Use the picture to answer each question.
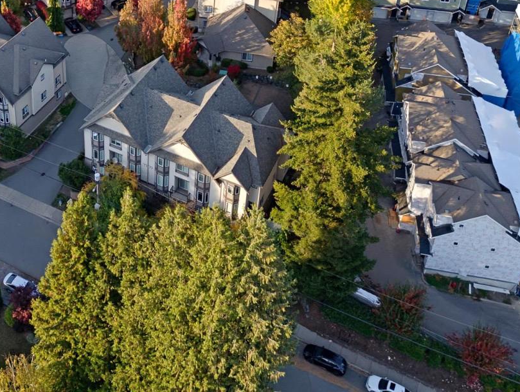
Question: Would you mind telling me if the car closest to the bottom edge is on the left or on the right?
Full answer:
The car closest to the bottom edge appears in the right half of the scene.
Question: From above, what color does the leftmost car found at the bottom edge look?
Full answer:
The leftmost car found at the bottom edge looks black in the image.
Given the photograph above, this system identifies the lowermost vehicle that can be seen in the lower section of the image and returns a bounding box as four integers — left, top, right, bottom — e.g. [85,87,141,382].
[364,369,413,392]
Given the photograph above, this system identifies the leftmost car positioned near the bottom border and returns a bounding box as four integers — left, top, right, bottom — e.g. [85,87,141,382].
[303,342,351,380]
